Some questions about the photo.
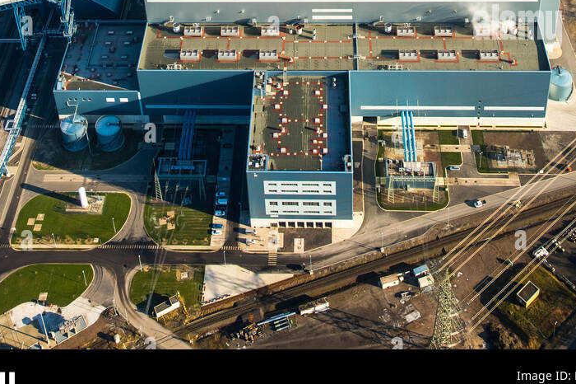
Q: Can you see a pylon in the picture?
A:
Yes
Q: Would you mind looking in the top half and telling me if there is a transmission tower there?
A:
No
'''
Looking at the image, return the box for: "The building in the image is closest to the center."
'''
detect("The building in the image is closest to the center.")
[247,74,352,225]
